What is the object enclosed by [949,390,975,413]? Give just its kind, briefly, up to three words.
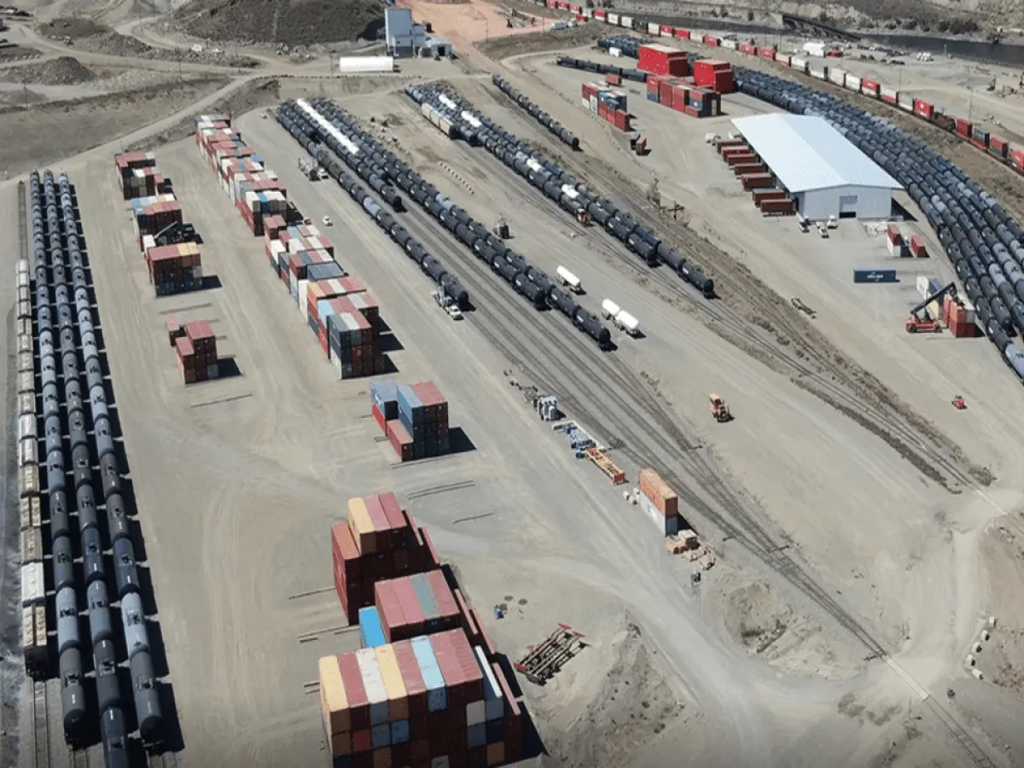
work vehicle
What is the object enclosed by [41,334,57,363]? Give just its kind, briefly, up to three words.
rail car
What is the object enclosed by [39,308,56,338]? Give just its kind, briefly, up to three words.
rail car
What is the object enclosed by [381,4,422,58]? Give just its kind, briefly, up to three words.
building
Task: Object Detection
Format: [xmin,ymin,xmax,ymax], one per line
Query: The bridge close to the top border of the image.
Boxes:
[766,10,864,45]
